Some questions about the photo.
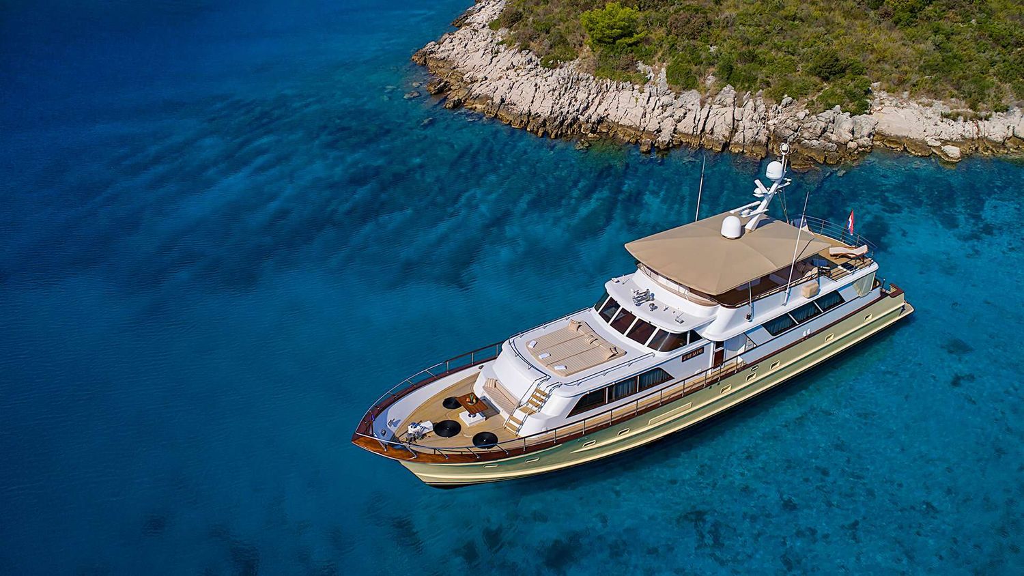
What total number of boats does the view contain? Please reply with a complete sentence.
In total, 1 boat can be seen.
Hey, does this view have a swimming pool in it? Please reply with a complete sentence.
No, the picture doesn't show any swimming pool.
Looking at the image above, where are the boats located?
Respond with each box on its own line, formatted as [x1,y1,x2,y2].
[347,146,909,497]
